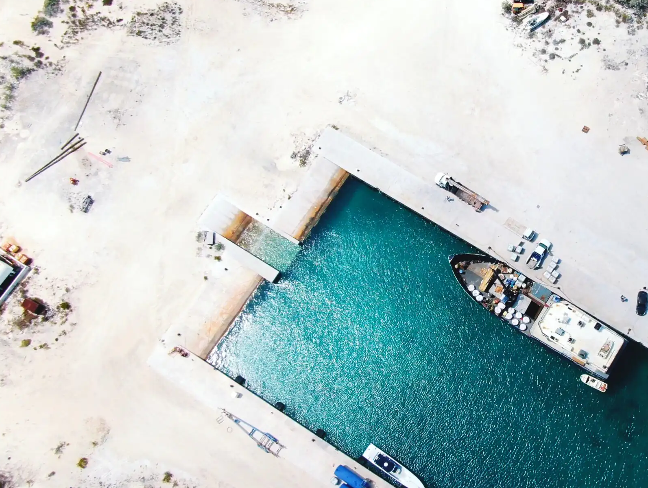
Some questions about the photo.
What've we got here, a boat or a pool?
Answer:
boat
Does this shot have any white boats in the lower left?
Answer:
No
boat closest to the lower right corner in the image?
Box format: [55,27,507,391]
[580,374,610,393]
